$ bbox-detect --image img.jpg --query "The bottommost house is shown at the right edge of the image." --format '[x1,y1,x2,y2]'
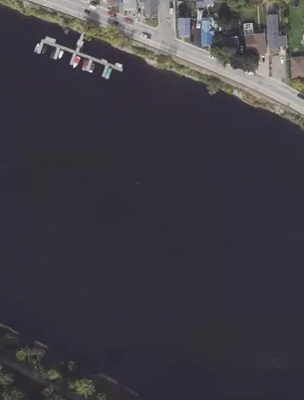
[290,55,304,79]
